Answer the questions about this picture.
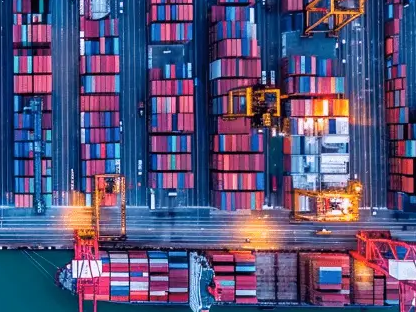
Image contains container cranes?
Yes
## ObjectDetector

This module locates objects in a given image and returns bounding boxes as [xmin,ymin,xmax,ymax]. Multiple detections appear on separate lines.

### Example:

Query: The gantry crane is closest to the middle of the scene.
[232,83,281,122]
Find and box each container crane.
[88,171,126,240]
[304,0,365,38]
[292,185,363,223]
[232,83,281,122]
[64,227,107,312]
[349,227,416,312]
